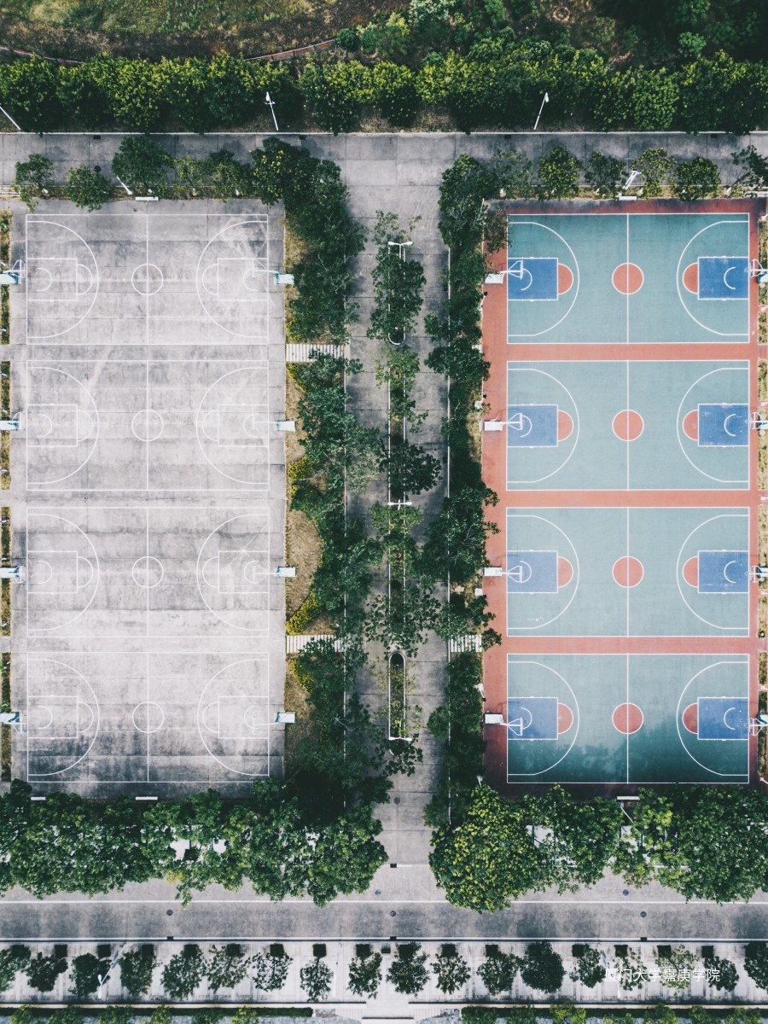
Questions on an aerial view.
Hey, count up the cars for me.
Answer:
zero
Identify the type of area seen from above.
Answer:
sports ground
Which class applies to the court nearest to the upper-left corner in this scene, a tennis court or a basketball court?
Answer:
basketball court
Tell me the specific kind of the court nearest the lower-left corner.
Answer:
basketball court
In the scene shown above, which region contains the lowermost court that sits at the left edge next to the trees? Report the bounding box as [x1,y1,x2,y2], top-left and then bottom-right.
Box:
[27,652,269,783]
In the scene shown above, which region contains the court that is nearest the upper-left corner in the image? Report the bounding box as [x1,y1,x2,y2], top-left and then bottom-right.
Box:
[26,214,268,344]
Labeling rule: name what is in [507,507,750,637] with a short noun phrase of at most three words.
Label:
basketball court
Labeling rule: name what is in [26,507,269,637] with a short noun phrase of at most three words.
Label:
basketball court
